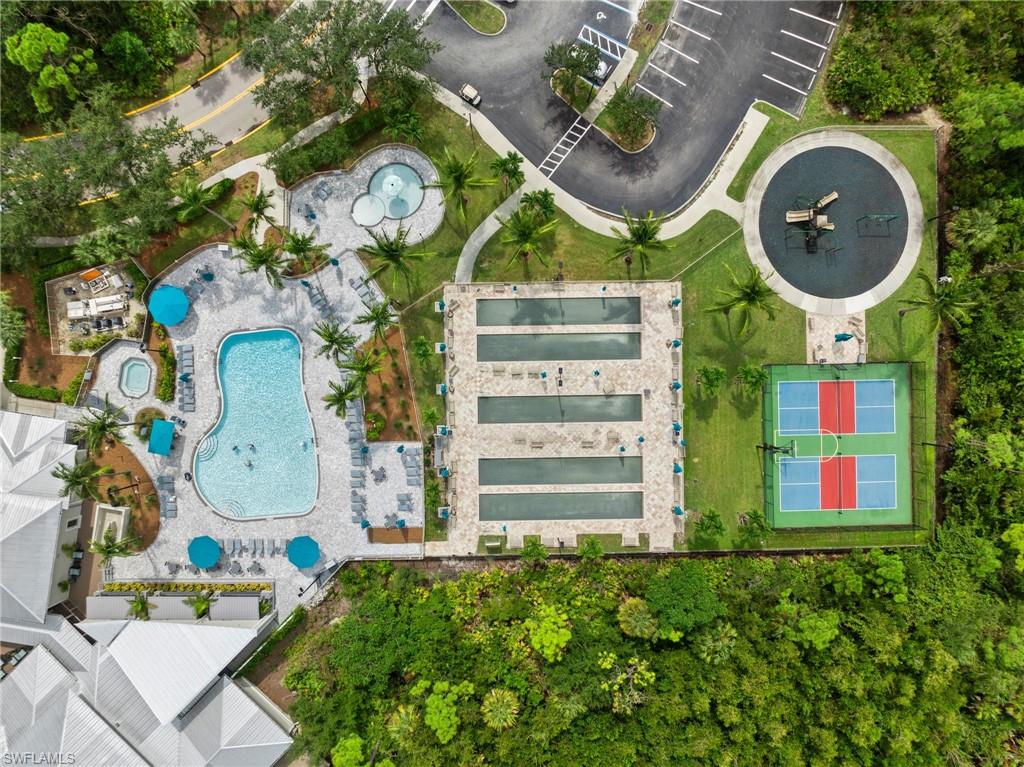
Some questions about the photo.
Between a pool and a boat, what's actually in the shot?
pool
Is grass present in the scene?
Yes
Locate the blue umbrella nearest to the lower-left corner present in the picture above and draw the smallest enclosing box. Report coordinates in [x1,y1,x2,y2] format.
[188,534,223,568]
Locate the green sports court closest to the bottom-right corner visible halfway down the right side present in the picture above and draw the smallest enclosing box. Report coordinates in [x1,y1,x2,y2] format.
[762,363,912,528]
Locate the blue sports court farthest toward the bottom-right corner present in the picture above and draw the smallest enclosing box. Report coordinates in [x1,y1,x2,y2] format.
[780,454,898,512]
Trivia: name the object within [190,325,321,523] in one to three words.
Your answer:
swimming pool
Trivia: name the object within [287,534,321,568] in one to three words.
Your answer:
umbrella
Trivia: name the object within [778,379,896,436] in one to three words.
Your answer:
sports court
